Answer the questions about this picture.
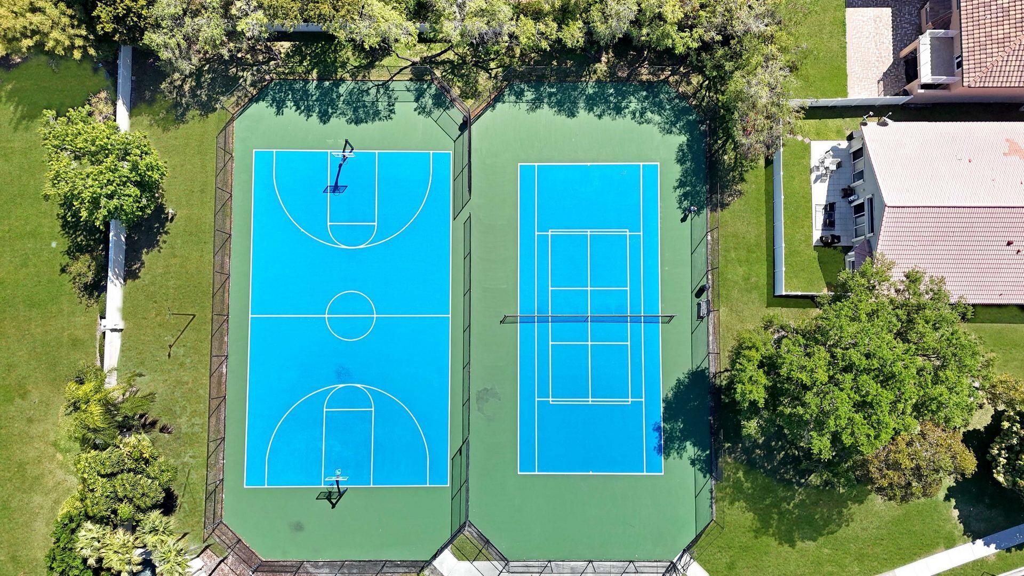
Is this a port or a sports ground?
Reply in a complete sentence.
The area seen from above is a sports ground.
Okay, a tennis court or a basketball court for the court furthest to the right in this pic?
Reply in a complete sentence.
What you see as the court furthest to the right is a tennis court.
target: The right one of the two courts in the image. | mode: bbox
[469,83,713,560]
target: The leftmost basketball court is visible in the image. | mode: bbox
[224,81,469,560]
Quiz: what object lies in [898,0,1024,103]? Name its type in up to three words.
house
